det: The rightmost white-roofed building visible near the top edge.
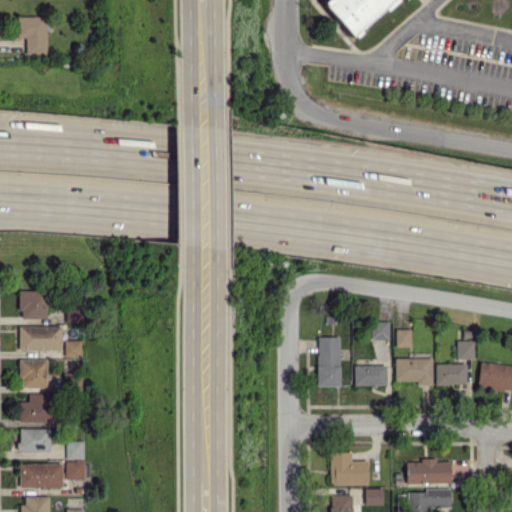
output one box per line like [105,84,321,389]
[329,0,404,39]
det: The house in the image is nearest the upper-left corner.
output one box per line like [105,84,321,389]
[20,16,48,54]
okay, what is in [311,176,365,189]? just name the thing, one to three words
vehicle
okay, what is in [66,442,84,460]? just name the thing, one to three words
building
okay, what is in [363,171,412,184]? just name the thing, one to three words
vehicle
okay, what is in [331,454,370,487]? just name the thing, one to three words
house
